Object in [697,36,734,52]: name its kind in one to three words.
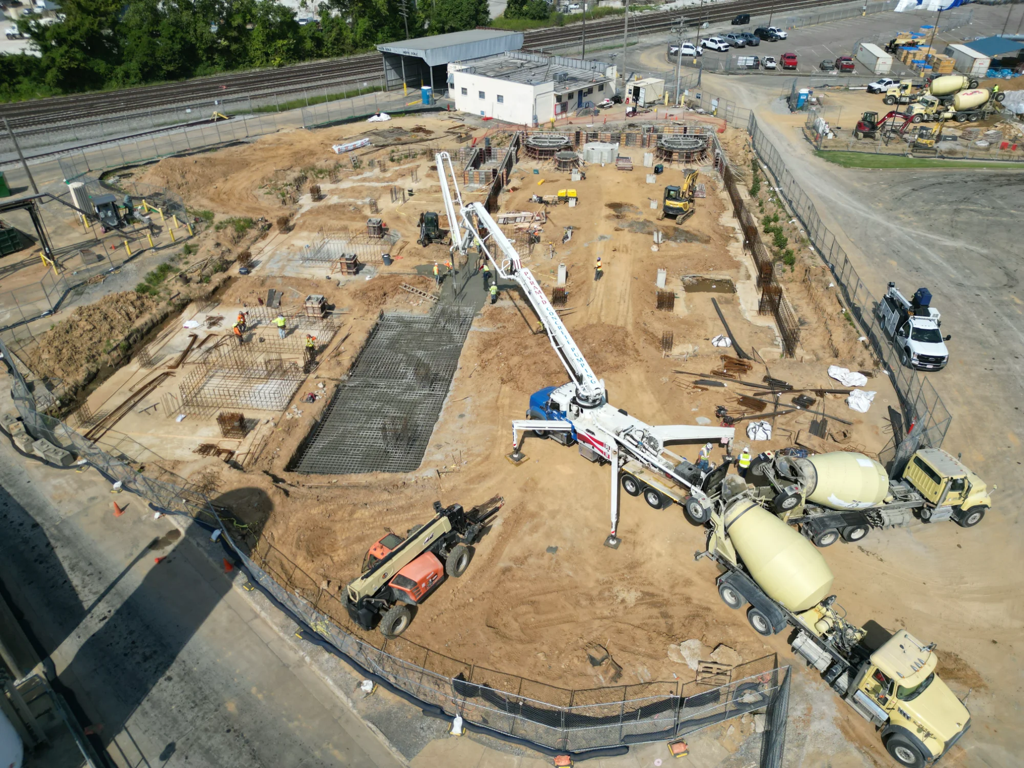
vehicle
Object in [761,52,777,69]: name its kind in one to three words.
vehicle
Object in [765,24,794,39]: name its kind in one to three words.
car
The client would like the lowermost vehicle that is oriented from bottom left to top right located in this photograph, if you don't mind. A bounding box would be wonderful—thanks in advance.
[335,494,496,644]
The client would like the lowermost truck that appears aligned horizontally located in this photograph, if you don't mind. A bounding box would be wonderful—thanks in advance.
[750,442,1001,544]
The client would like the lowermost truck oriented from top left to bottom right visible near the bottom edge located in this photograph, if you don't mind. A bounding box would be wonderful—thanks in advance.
[667,481,980,768]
